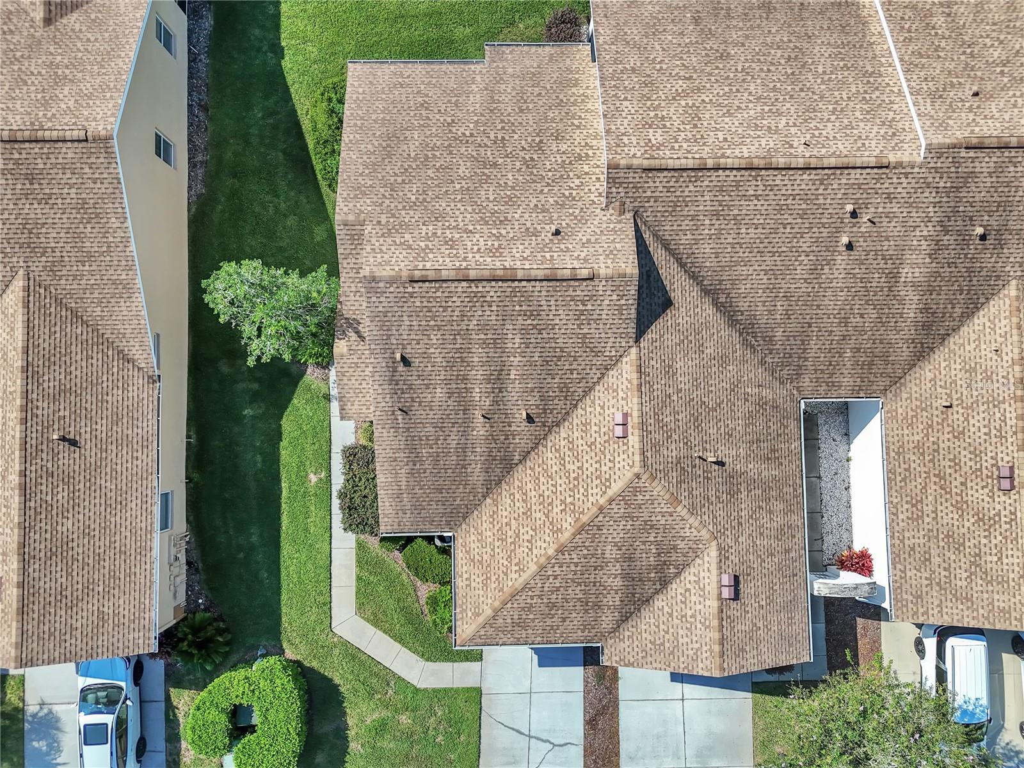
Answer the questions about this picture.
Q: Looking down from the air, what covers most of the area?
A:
buildings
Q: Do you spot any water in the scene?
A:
No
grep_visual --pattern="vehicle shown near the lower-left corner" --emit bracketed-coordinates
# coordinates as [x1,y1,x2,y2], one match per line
[67,656,145,768]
